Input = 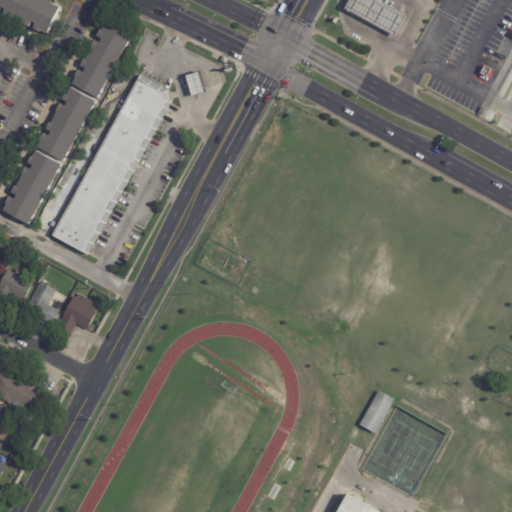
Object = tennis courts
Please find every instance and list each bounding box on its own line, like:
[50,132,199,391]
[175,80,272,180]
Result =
[362,406,446,494]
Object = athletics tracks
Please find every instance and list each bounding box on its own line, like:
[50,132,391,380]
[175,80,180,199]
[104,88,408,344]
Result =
[79,320,300,512]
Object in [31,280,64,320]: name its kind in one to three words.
house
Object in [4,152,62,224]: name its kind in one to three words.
building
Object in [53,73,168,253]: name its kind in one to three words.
building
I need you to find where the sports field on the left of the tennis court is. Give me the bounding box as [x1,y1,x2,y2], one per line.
[95,334,286,512]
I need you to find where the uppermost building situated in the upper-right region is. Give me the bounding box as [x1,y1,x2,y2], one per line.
[344,0,408,36]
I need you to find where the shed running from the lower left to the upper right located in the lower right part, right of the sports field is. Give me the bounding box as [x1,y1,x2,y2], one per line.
[360,392,394,432]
